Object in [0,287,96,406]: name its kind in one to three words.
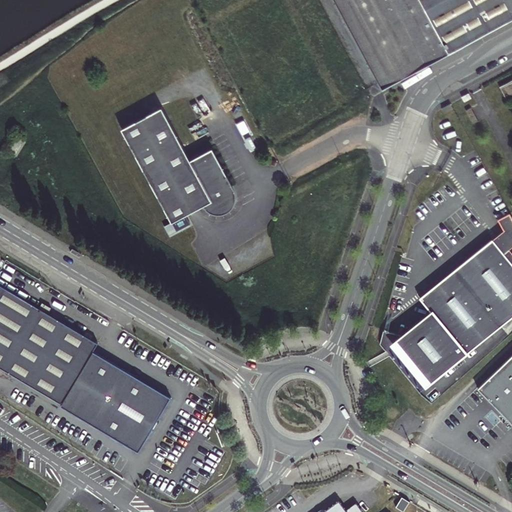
building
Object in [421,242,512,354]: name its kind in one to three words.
building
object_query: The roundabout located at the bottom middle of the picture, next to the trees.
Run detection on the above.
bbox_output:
[248,353,355,464]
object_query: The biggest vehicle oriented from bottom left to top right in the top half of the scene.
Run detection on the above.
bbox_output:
[403,68,431,88]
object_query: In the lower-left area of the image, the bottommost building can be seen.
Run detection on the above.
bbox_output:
[61,354,170,452]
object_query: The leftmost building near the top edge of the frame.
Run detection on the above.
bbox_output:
[335,0,448,90]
